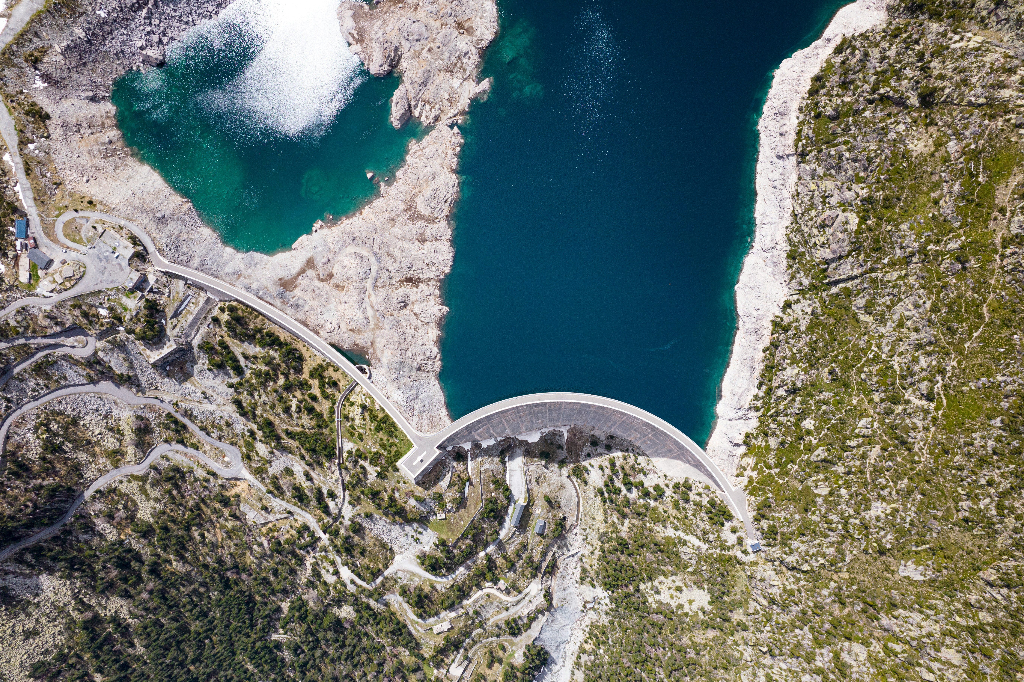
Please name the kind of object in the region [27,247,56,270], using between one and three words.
house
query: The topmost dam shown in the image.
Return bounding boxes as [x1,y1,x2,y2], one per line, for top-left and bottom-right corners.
[154,248,432,448]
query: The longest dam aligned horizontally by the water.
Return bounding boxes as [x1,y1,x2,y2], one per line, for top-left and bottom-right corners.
[430,390,745,521]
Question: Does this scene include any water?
Yes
